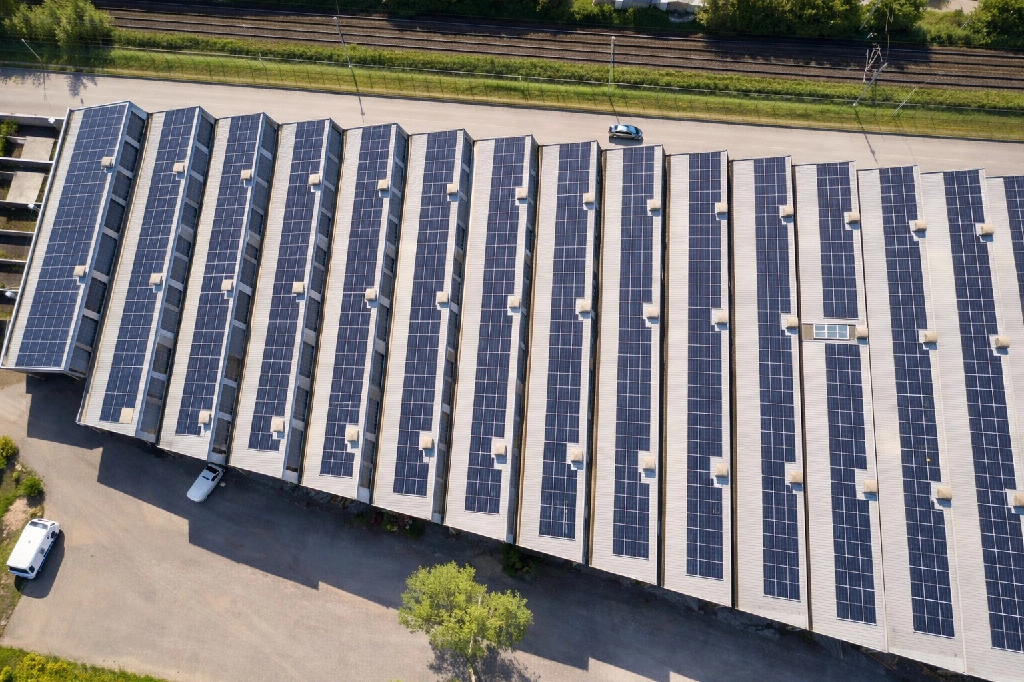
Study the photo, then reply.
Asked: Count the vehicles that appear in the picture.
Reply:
3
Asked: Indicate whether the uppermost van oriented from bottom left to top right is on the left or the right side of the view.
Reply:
left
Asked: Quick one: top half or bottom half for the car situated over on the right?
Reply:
top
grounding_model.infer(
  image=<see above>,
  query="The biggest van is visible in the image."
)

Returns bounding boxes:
[8,523,57,583]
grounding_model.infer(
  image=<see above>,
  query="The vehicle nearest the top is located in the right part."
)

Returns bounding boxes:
[606,122,644,142]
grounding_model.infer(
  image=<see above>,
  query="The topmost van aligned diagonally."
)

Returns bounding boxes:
[187,468,226,509]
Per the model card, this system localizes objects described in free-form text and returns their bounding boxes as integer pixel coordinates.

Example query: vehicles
[187,468,226,509]
[8,523,57,583]
[606,122,644,142]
